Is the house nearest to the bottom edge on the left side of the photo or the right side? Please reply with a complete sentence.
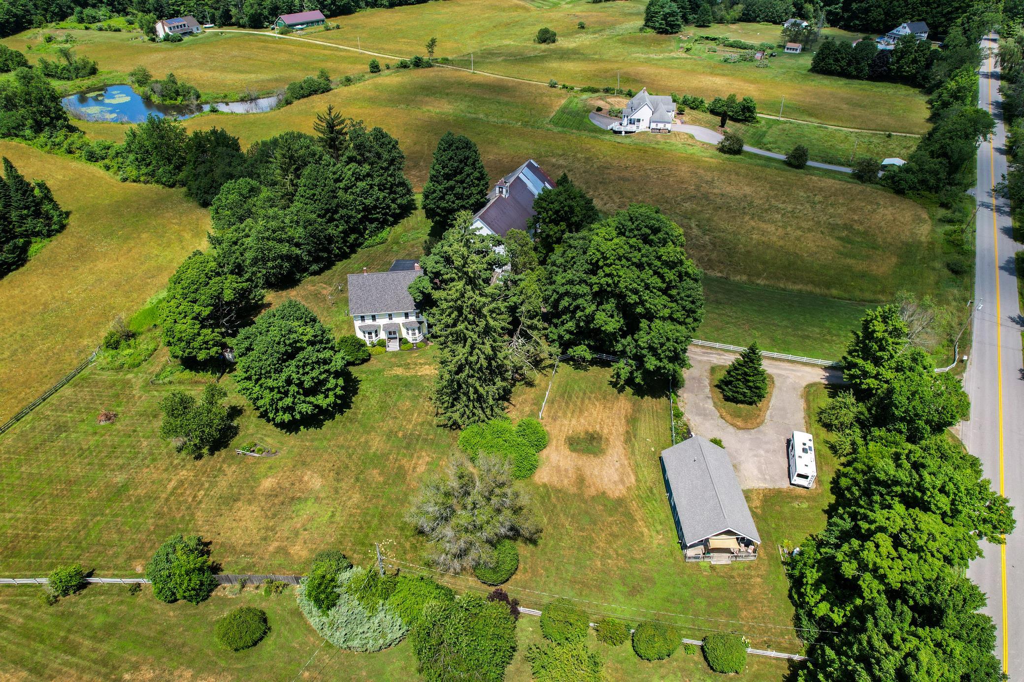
The house nearest to the bottom edge appears in the right half of the scene.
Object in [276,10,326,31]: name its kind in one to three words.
barn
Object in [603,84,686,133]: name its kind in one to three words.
house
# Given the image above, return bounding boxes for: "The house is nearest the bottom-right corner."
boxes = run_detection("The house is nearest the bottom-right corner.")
[659,436,761,569]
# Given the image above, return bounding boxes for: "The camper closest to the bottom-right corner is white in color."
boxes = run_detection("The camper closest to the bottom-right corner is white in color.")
[783,433,814,493]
